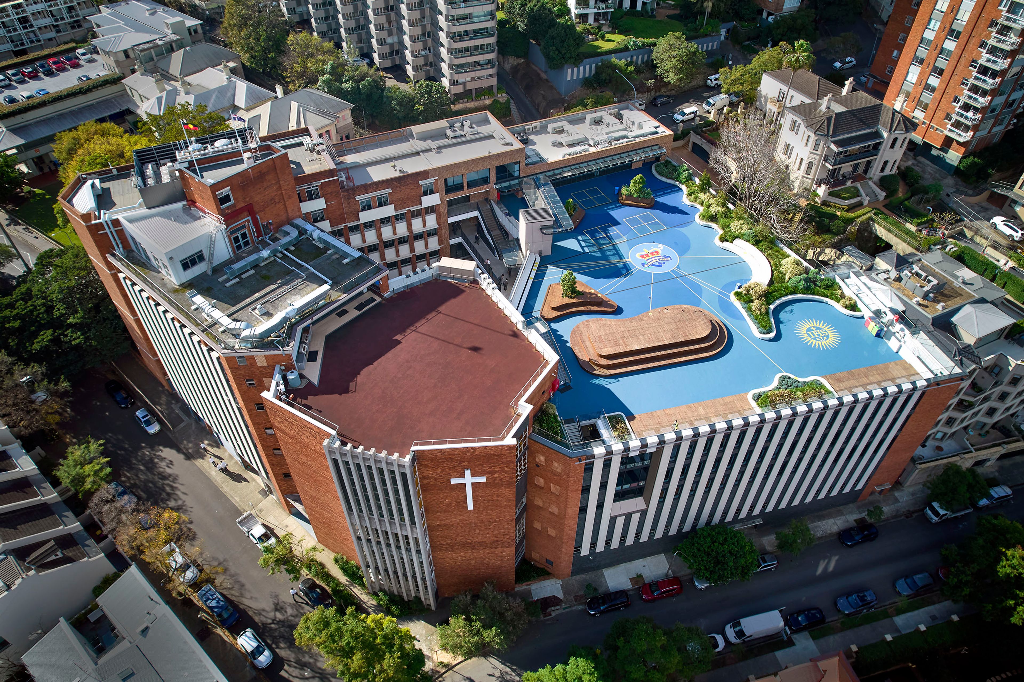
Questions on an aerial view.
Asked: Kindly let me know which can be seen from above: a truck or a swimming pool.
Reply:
truck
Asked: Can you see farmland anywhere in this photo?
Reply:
No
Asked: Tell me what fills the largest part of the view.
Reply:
buildings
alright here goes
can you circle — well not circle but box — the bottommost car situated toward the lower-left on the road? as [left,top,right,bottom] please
[233,624,275,669]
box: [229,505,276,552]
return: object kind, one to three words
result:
truck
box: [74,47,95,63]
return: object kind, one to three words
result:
car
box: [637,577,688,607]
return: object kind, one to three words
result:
car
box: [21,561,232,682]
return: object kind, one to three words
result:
house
